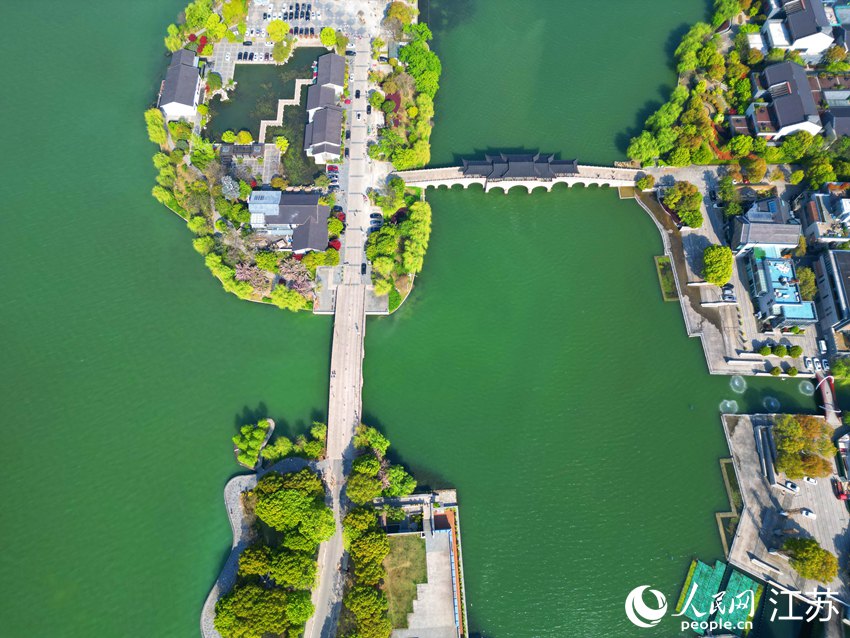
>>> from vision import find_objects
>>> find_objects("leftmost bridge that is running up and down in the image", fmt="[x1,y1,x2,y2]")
[325,285,368,460]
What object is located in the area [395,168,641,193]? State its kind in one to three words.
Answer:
bridge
